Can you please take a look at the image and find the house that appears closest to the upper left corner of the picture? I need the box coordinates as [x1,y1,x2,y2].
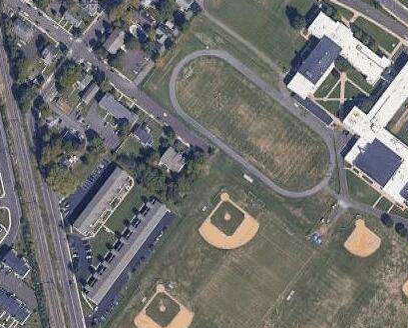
[12,20,34,43]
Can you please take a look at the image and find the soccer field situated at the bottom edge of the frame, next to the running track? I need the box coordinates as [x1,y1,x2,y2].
[204,232,309,328]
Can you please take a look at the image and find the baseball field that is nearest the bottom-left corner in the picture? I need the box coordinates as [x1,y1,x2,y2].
[133,278,194,328]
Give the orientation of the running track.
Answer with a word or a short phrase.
diagonally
